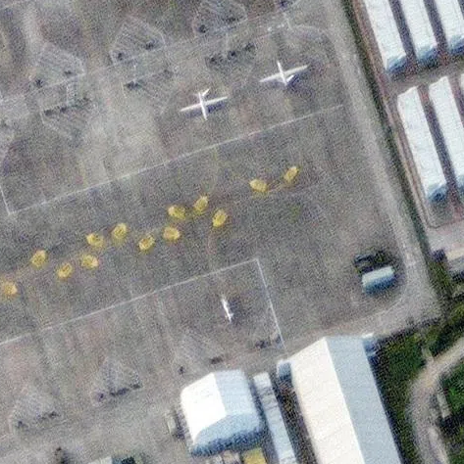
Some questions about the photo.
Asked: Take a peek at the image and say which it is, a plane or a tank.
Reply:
plane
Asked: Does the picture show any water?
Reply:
No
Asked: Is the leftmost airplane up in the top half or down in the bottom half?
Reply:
top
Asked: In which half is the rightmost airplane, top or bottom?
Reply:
top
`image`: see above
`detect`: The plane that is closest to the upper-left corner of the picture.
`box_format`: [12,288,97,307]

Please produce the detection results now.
[179,92,226,119]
